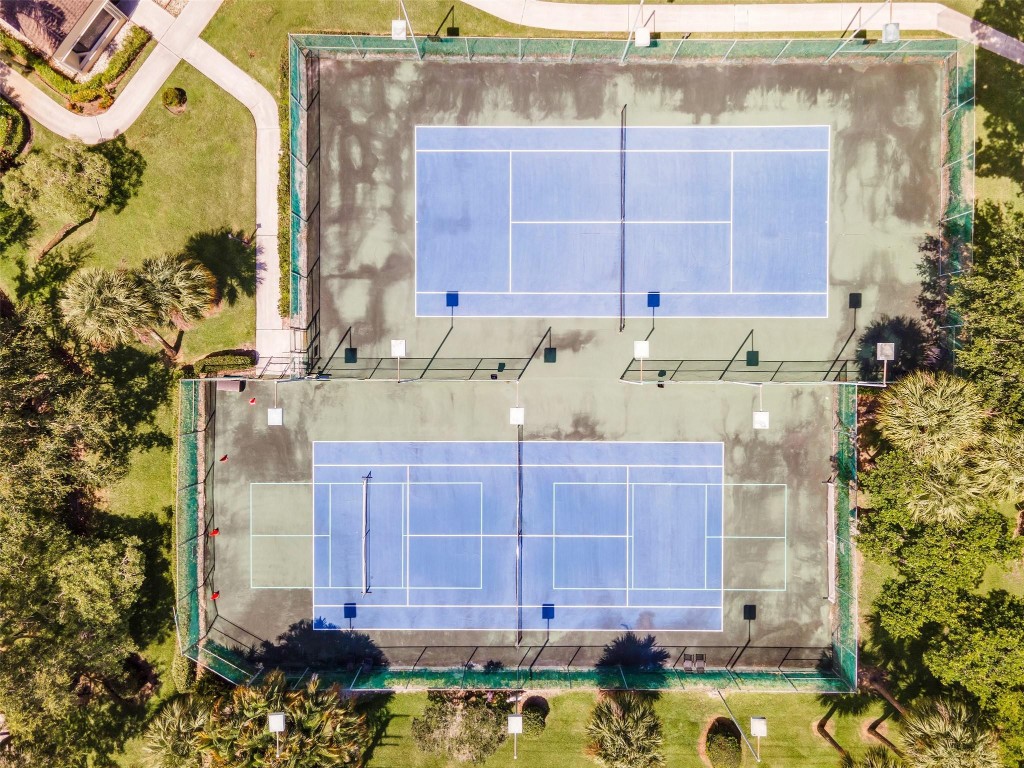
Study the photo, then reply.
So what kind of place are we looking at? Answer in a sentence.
The area seen from above is a sports ground.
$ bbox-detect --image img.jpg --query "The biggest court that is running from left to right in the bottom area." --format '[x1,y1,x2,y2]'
[205,379,835,670]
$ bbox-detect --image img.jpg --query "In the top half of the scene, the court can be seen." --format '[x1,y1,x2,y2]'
[308,60,942,380]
